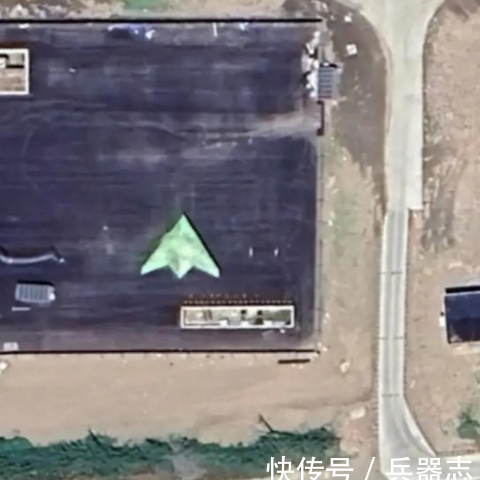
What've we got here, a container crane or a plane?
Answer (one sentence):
The one in the frame is a plane.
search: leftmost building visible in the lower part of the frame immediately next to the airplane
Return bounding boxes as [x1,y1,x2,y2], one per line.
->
[181,306,297,330]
